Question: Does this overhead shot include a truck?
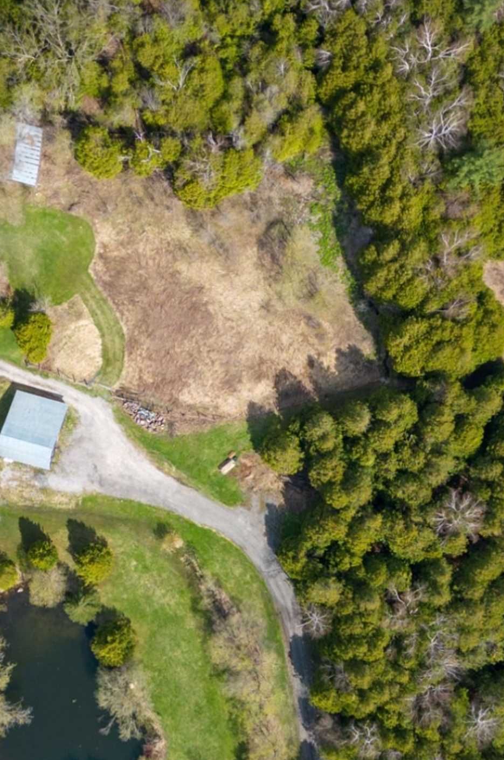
No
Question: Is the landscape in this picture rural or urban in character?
rural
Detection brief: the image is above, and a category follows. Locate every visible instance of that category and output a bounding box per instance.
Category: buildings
[13,125,43,188]
[0,390,68,470]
